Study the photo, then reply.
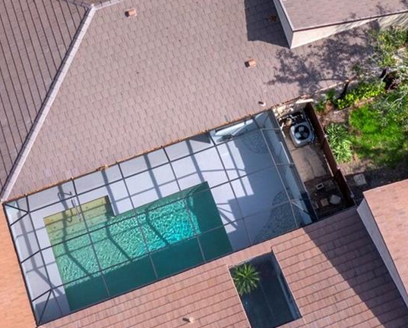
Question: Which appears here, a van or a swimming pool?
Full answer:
The one in the frame is a swimming pool.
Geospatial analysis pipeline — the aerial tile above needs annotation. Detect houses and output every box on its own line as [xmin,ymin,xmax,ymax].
[36,181,408,328]
[0,0,408,200]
